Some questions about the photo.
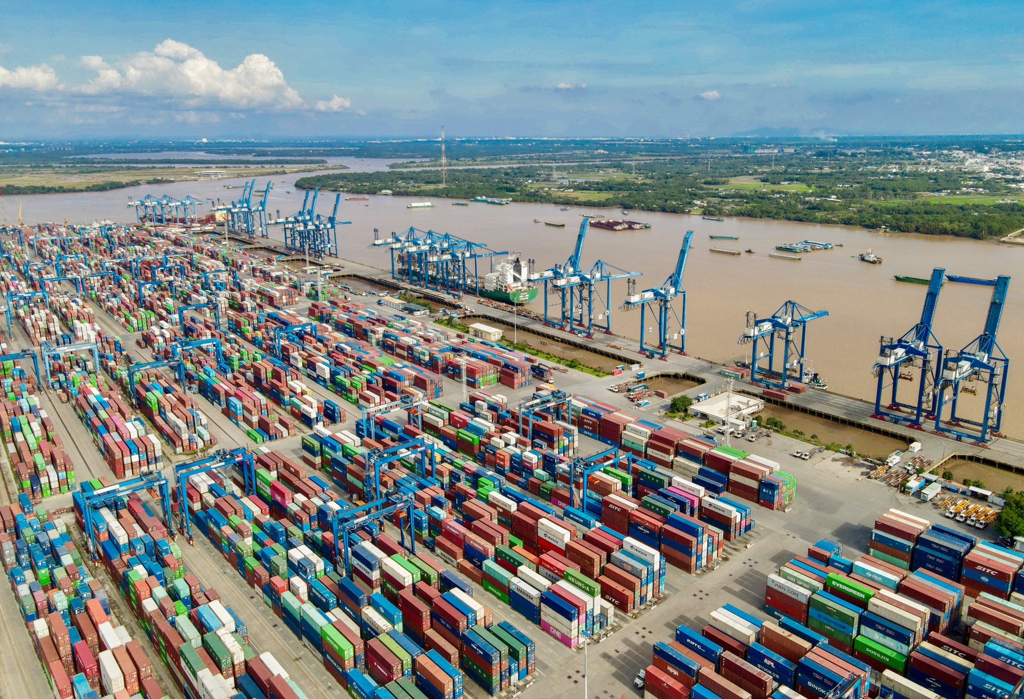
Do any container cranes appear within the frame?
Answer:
Yes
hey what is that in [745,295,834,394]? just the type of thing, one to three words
container crane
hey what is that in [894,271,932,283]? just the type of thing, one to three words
ship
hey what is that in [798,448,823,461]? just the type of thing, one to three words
vehicle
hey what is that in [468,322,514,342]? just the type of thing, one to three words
building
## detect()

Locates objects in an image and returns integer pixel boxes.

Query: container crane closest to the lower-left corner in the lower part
[80,466,179,567]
